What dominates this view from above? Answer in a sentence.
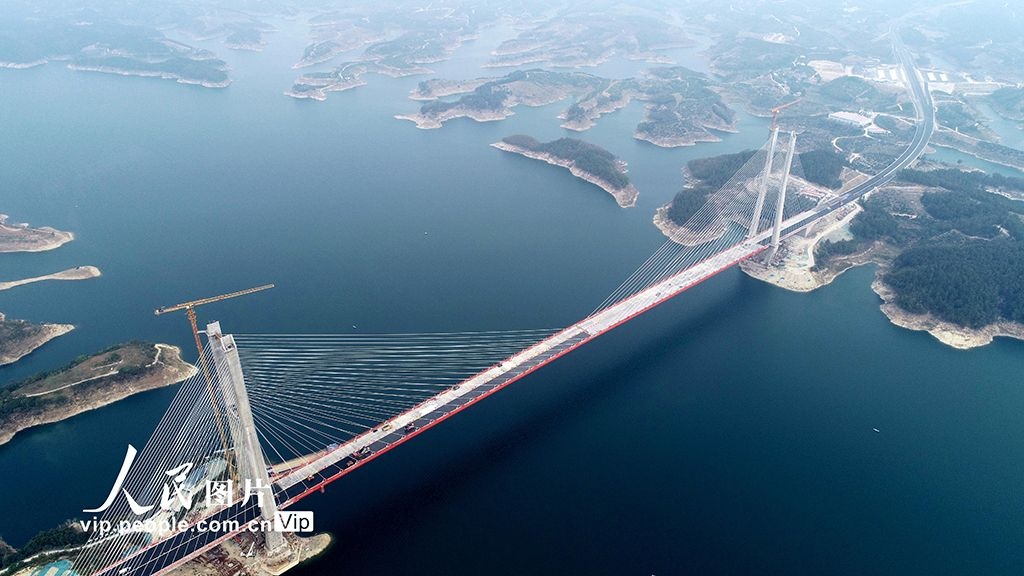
The bulk of the photo consists of water.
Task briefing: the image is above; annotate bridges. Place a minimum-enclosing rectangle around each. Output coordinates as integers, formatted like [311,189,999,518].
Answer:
[78,128,820,576]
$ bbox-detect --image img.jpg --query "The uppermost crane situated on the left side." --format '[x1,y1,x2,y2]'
[154,285,274,528]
